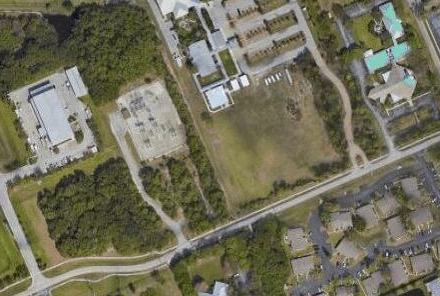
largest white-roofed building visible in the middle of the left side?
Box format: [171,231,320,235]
[31,88,73,146]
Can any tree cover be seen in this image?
Yes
